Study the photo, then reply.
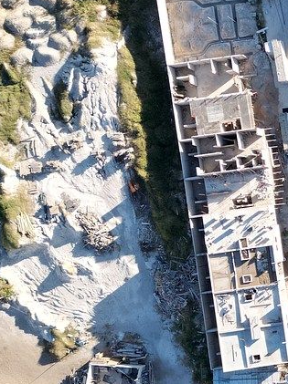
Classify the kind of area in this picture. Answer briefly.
residential area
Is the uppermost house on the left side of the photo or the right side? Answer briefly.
right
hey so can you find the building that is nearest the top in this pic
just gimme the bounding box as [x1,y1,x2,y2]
[177,56,261,103]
